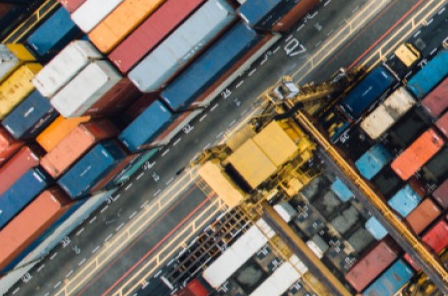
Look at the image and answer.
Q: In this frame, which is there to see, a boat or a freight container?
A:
freight container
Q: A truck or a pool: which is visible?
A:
truck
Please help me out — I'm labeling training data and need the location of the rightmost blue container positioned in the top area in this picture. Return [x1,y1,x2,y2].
[407,42,448,96]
